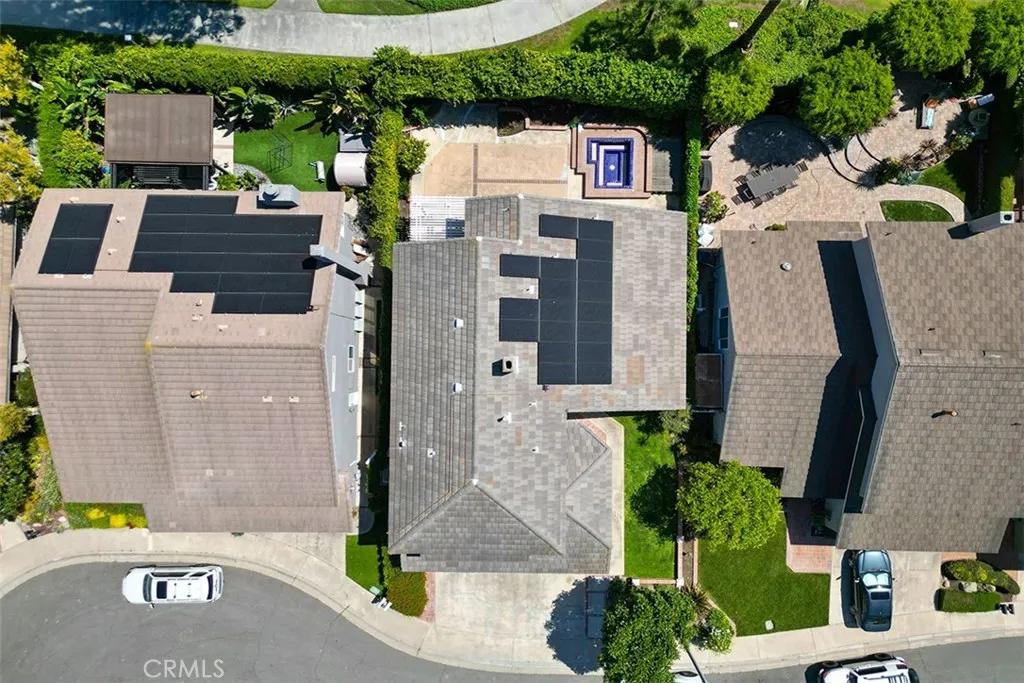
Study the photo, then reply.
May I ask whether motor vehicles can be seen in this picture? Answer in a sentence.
Yes, you can see a motor vehicle in this photo.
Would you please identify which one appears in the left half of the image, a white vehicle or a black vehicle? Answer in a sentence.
There is a white vehicle in the left half of the image.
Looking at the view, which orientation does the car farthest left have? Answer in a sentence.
From this overhead view, the car farthest left appears to run from left to right.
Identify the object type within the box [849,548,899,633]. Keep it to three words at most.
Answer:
car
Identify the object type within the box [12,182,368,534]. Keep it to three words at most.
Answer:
house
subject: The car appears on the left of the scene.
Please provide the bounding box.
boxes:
[121,559,225,611]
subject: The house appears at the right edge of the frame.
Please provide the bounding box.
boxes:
[712,209,1024,550]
